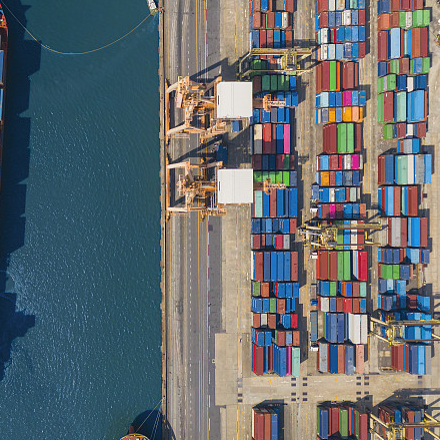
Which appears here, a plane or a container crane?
container crane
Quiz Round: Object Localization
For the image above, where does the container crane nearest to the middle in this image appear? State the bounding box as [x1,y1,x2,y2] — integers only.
[166,152,282,224]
